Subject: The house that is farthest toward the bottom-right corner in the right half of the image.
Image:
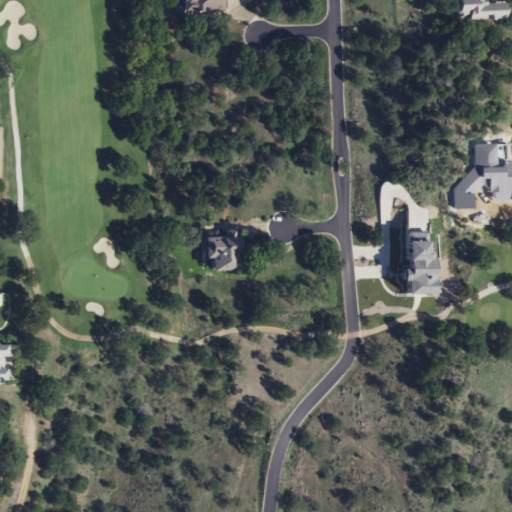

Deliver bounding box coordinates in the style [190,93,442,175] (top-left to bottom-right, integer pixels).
[408,232,442,296]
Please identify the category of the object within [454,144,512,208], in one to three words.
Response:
house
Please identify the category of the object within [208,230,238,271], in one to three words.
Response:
house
